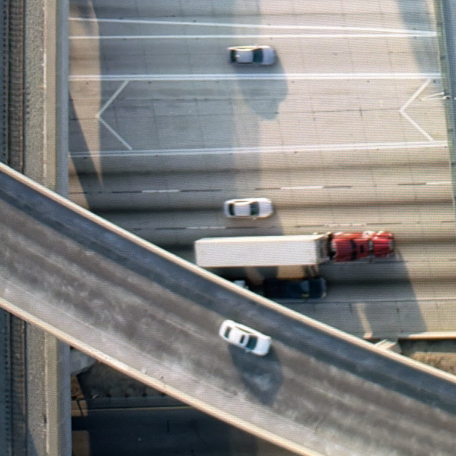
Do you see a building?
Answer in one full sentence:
No, there is no building in the image.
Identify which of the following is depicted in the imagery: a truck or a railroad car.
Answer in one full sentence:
Visible in the photo is a truck.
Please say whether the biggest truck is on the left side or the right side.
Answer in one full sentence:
The biggest truck is on the right side of the image.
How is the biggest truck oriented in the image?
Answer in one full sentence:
What the image shows is the biggest truck lying horizontally.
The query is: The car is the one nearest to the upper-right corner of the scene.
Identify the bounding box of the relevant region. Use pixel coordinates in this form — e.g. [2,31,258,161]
[226,45,278,67]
